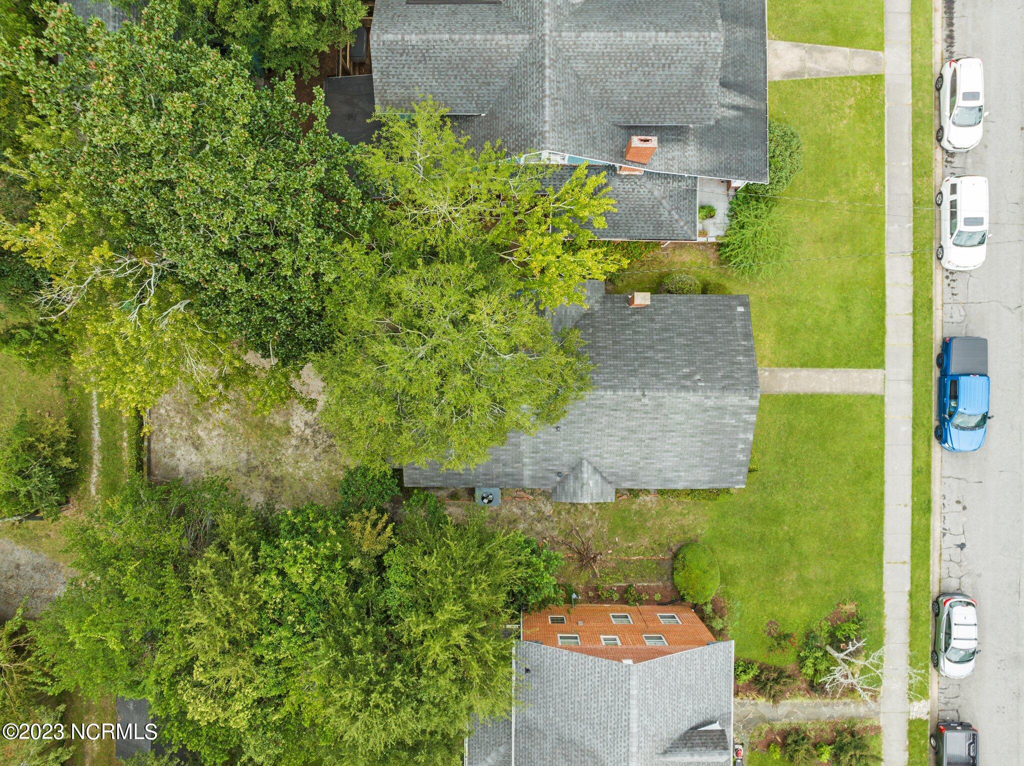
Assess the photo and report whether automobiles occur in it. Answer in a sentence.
Yes, an automobile is visible in the scene.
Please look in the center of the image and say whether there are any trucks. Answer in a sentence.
No, looking in the center of the image, there is no truck.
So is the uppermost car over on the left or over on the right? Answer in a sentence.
The uppermost car sits on the right side.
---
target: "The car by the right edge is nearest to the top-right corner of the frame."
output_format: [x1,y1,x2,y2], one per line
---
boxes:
[936,56,991,157]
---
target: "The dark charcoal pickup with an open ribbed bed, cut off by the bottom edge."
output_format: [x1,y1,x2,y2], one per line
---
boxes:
[932,715,983,766]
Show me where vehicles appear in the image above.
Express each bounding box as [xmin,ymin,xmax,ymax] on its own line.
[937,175,994,274]
[936,338,995,454]
[932,591,987,680]
[936,56,991,157]
[932,715,983,766]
